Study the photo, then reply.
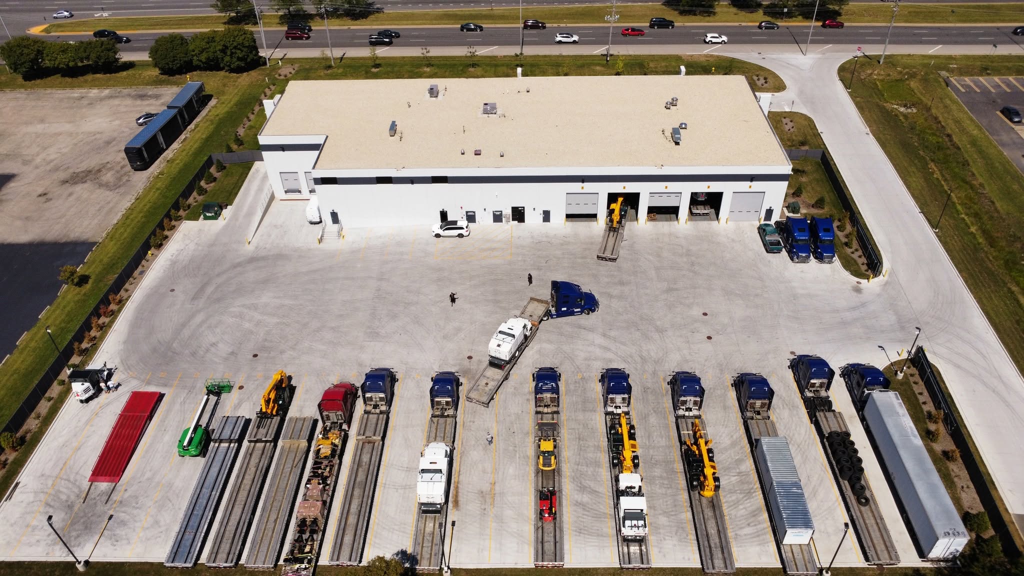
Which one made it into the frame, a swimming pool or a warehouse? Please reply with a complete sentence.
This aerial view contains a warehouse.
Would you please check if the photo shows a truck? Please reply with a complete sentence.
Yes, a truck is visible in the scene.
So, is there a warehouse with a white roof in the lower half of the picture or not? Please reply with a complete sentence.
No, no warehouse with a white roof can be made out in the lower half of the picture.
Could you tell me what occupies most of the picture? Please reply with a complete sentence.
What you mostly see from above here is paved ground.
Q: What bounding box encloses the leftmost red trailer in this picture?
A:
[87,390,162,506]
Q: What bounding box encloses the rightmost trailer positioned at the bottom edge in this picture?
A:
[865,391,971,564]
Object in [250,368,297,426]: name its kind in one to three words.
work vehicle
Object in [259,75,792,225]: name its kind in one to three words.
warehouse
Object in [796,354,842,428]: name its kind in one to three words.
truck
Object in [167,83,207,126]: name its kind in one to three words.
trailer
